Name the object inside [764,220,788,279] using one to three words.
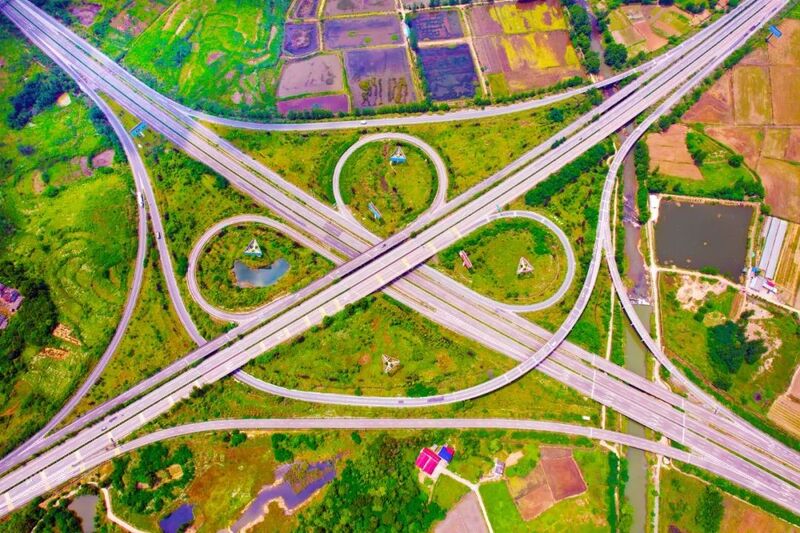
shed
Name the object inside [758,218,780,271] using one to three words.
shed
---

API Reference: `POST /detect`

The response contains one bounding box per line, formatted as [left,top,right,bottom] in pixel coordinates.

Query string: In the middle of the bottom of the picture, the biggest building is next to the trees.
[414,448,441,474]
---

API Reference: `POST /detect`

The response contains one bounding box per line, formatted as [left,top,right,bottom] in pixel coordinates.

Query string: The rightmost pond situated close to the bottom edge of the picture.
[230,451,349,533]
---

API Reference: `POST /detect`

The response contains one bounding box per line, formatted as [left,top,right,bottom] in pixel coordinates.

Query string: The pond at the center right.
[656,200,755,284]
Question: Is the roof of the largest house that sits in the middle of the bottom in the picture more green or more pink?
pink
